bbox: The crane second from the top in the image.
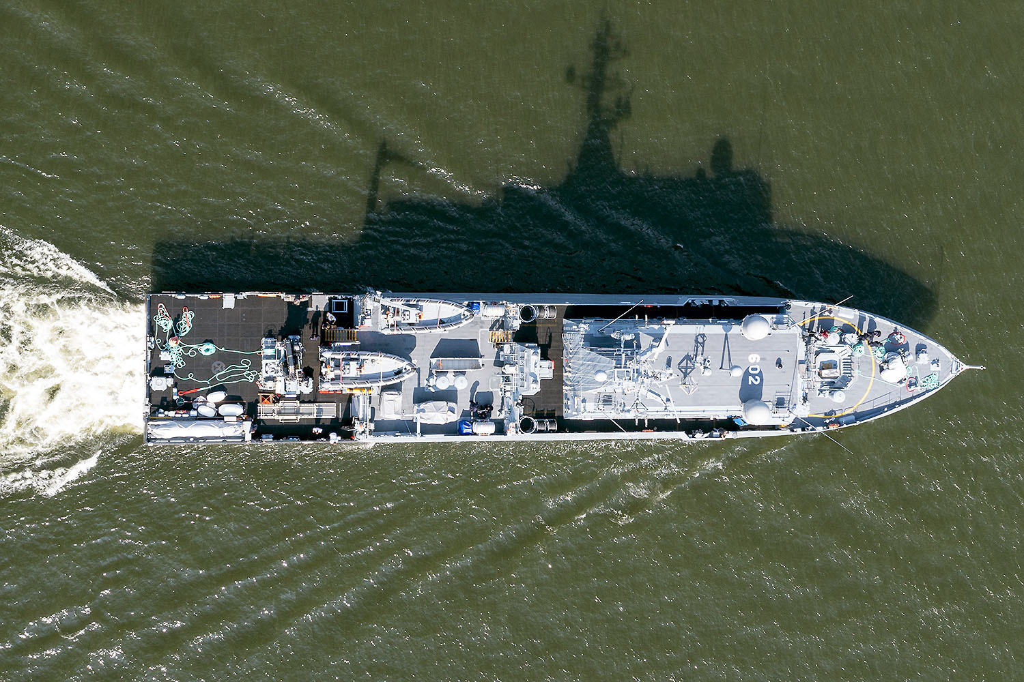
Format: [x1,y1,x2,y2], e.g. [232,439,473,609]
[276,336,312,397]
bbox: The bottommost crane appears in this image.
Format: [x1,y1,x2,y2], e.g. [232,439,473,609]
[349,390,376,441]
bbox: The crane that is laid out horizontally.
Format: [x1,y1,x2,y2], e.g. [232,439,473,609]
[362,290,428,314]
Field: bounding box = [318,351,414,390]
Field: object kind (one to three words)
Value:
boat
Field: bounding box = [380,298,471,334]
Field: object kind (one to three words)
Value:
boat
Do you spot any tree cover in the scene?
No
